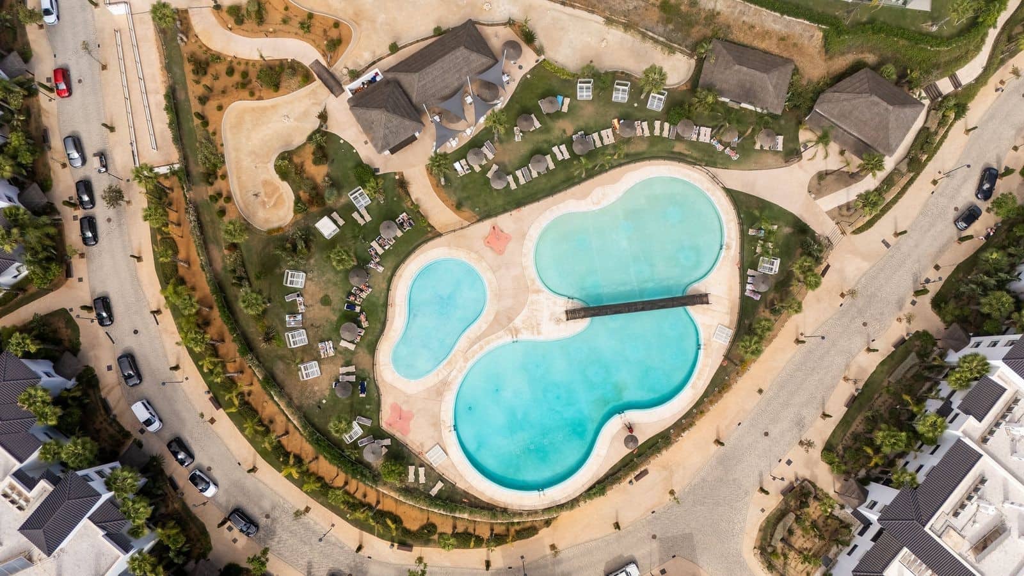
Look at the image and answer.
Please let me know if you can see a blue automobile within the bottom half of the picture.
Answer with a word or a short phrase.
No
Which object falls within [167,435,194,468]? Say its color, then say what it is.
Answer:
black car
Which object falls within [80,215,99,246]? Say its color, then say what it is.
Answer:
black car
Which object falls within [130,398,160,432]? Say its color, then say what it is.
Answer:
white car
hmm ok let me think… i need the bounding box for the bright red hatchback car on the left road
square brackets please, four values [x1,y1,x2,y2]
[53,68,72,99]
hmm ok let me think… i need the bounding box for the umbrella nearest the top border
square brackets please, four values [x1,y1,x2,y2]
[501,39,523,61]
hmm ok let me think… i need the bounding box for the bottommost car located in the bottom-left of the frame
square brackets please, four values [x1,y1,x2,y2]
[228,508,258,536]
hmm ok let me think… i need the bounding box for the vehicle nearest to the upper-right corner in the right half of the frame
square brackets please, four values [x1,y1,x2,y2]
[975,167,996,200]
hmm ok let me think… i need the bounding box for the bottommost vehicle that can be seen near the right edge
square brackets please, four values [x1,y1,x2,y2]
[954,203,981,232]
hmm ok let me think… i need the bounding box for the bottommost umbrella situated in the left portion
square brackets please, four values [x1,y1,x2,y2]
[361,441,384,465]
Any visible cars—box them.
[130,398,160,432]
[66,135,86,167]
[120,354,141,386]
[954,203,981,232]
[41,0,60,22]
[93,295,113,327]
[53,68,72,99]
[167,435,194,468]
[188,468,217,498]
[80,215,99,246]
[228,508,258,536]
[77,179,96,210]
[975,167,996,200]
